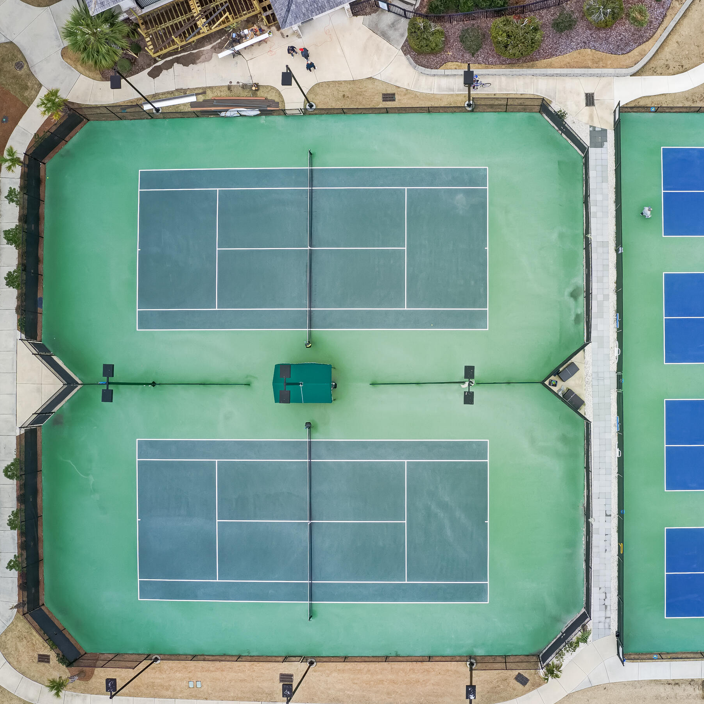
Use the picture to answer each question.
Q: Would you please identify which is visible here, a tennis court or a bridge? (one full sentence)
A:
Looking from above, you can make out a tennis court.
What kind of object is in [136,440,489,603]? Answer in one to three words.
tennis court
